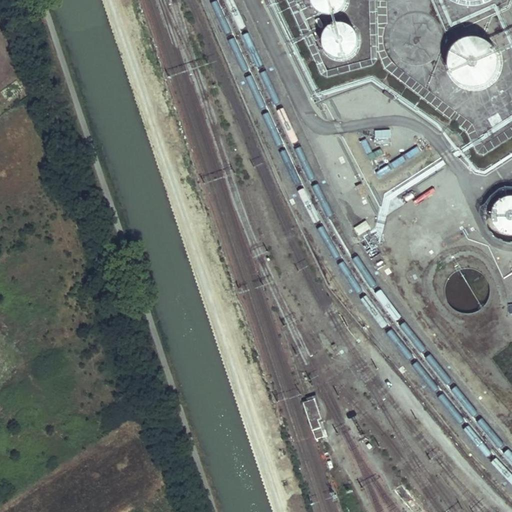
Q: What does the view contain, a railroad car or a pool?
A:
railroad car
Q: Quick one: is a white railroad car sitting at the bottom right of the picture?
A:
Yes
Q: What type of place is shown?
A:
industrial area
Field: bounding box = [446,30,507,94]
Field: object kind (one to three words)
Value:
storage tank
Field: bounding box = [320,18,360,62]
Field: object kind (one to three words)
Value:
storage tank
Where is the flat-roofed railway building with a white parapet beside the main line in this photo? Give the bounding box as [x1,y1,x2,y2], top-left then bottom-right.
[302,398,327,442]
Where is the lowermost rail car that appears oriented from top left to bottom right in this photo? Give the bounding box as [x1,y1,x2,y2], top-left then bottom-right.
[492,459,512,486]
